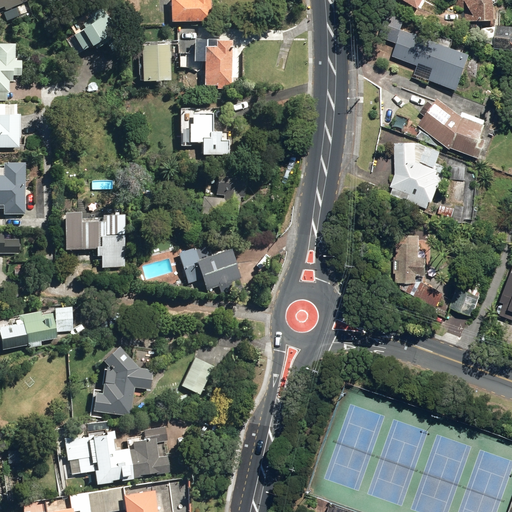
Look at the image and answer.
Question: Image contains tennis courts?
Yes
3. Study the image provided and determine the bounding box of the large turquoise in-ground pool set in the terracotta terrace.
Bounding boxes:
[142,258,178,281]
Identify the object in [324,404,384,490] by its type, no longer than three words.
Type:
tennis court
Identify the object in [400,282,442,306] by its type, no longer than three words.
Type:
shed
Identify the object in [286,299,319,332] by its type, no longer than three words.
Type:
roundabout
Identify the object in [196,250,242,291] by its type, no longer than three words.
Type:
house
